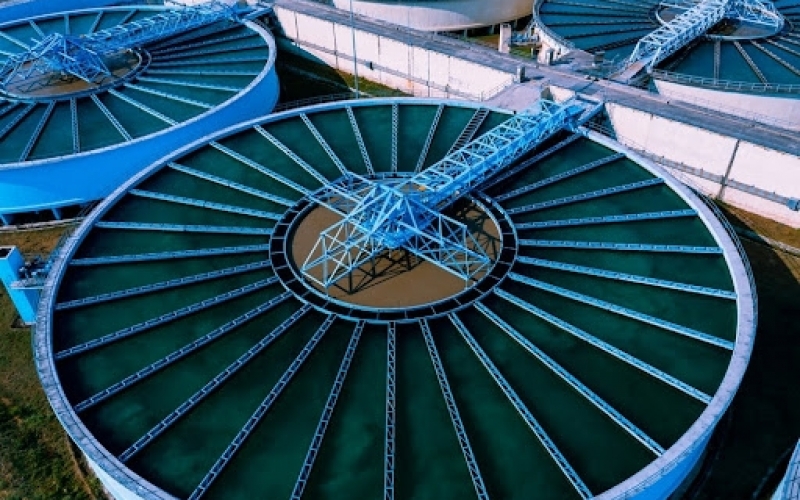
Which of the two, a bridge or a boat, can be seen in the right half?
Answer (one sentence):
Looking in the right half, you will find a bridge.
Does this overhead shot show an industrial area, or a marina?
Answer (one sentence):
This looks like an industrial area.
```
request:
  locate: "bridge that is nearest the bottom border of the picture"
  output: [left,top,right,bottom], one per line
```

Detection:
[389,94,578,228]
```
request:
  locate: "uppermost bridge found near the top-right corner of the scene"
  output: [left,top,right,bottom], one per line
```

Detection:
[632,0,738,73]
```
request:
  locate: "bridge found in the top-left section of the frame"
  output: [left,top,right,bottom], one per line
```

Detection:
[68,0,244,63]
